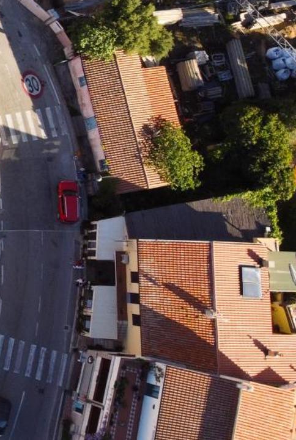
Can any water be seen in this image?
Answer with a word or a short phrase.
No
